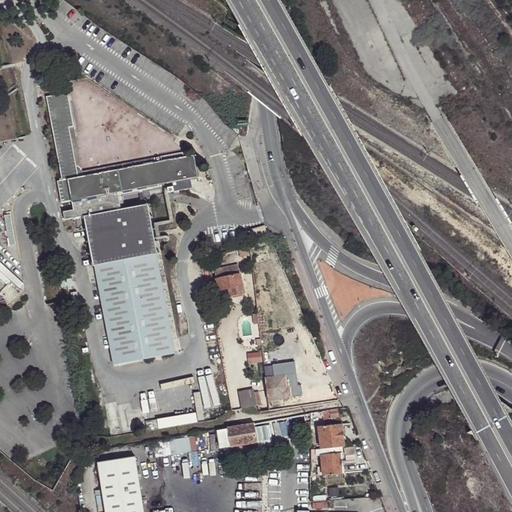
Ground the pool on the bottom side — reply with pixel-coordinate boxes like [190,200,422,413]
[239,314,260,346]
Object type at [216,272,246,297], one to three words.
house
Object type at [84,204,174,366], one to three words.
building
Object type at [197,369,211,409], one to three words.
vehicle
